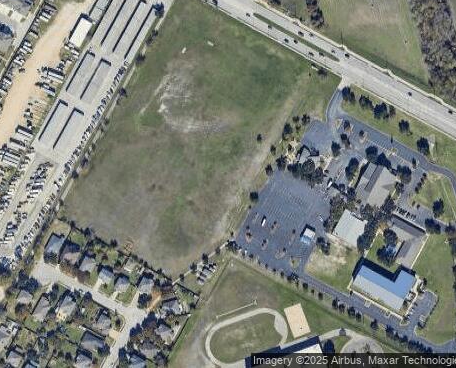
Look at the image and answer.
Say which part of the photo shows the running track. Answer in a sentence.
The running track sits in the bottom section of the image.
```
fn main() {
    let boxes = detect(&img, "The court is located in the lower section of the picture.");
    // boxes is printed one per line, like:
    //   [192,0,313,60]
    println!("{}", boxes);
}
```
[284,305,310,338]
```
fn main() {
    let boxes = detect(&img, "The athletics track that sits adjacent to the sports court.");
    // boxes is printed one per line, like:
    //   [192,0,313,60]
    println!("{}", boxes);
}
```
[208,310,284,368]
